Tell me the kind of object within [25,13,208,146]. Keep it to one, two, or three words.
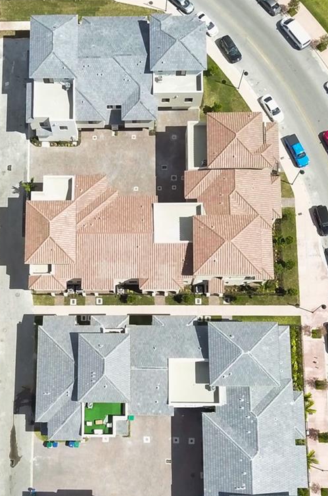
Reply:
building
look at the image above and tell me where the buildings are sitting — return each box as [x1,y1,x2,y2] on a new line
[24,112,282,294]
[25,13,208,146]
[35,315,309,496]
